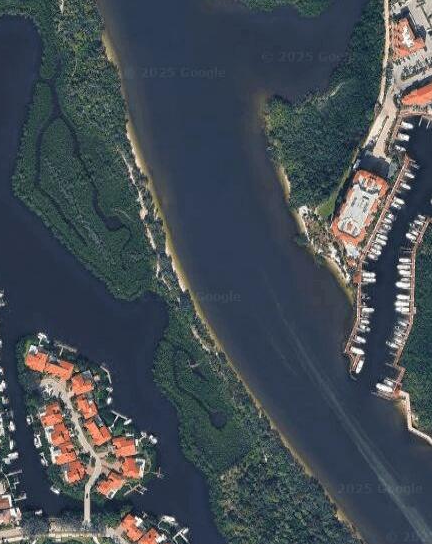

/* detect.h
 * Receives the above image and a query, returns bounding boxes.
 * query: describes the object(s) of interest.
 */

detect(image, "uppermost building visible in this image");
[391,16,430,58]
